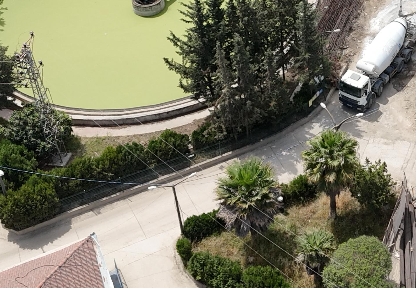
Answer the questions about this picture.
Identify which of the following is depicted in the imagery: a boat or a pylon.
pylon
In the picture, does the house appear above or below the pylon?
below it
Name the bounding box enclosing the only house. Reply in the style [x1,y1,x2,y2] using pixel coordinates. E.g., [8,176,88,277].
[0,233,105,288]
